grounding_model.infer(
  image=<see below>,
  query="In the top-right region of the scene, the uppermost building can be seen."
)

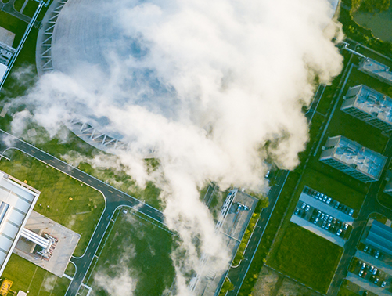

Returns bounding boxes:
[356,57,392,86]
